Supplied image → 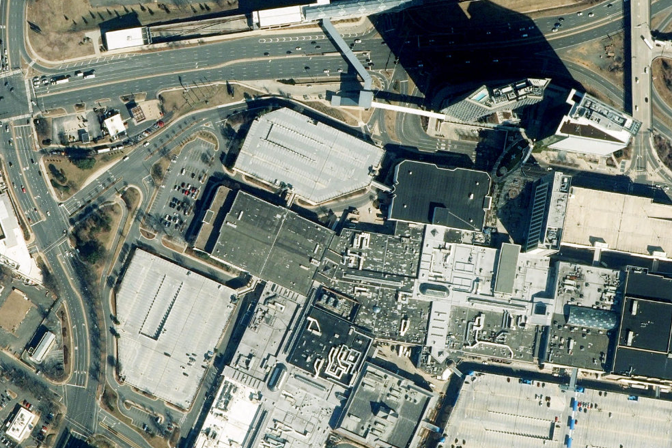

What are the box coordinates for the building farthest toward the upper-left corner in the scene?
[103,28,144,51]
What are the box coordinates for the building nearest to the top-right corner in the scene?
[535,89,642,155]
